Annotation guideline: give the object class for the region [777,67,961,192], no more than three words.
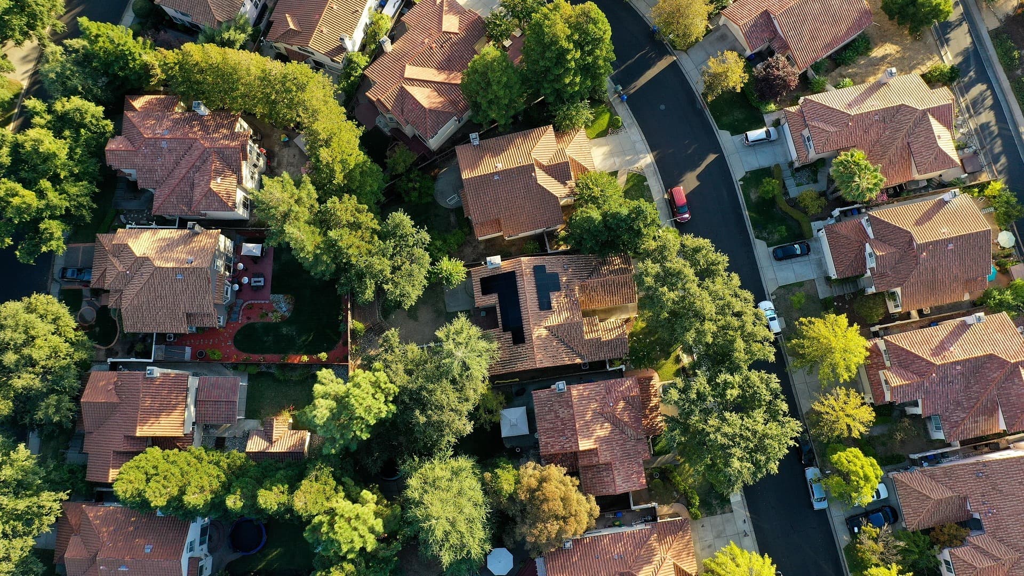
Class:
house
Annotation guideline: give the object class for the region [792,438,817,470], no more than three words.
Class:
car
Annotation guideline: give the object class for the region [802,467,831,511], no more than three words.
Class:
car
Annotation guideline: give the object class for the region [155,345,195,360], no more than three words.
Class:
shed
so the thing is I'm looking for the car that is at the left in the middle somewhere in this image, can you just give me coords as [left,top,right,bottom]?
[57,266,91,283]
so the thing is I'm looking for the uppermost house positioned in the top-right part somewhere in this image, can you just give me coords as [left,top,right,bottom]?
[721,0,879,78]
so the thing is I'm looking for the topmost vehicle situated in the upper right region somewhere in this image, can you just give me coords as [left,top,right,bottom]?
[742,126,780,146]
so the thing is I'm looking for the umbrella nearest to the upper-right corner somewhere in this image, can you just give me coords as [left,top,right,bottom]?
[993,230,1015,248]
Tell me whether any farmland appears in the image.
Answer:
No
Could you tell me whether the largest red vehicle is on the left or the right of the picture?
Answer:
right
